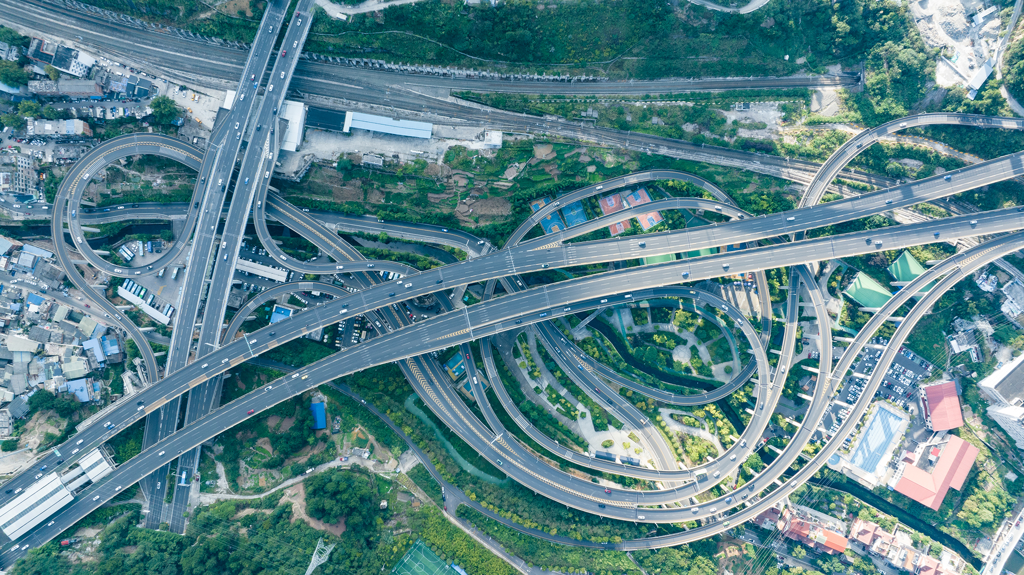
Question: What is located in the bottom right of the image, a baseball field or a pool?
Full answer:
What appears in the bottom right of the image is a pool.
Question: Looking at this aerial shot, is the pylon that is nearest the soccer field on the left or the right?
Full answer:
The pylon that is nearest the soccer field sits on the left side.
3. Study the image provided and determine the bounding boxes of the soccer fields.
[391,540,458,575]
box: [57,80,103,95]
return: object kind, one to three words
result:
house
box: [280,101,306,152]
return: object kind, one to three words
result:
shed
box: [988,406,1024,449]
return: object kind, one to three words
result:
building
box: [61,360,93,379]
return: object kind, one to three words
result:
house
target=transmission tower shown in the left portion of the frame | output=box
[303,541,332,575]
